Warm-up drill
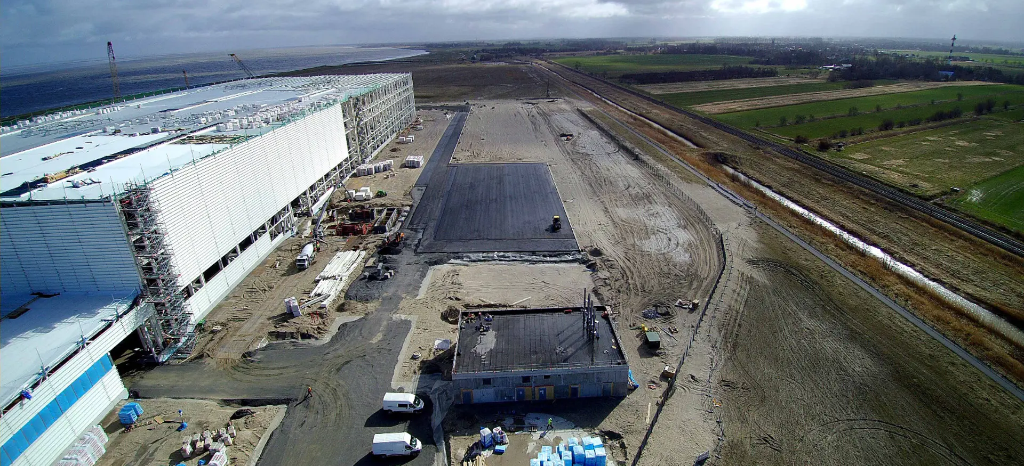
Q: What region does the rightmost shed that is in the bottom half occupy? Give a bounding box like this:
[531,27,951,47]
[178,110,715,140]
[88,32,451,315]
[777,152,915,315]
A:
[640,329,665,352]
